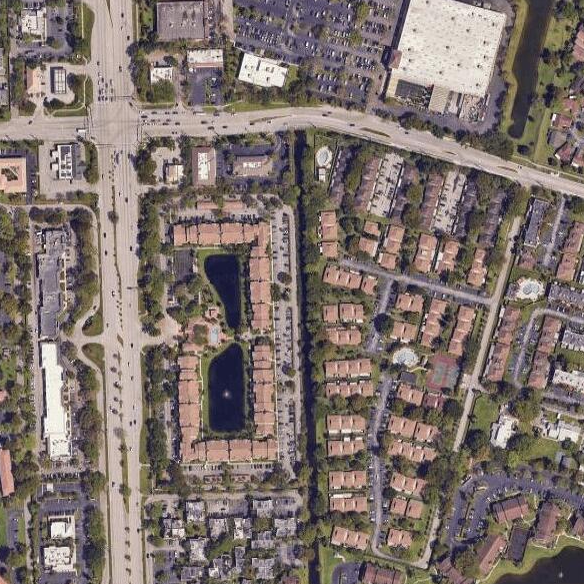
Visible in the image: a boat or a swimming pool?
swimming pool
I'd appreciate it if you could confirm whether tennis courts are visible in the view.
Yes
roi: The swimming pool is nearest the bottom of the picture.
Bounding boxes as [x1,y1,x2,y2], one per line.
[393,347,418,368]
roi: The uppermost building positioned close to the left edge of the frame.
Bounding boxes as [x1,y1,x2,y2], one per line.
[21,9,46,39]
